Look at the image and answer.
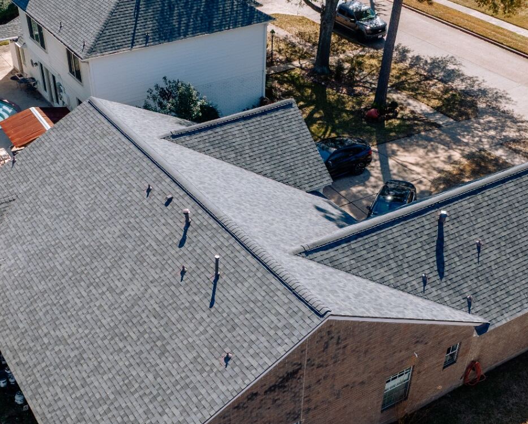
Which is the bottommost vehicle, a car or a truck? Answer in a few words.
car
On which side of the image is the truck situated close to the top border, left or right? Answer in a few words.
right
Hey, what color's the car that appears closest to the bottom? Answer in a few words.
black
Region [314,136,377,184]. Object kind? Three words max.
car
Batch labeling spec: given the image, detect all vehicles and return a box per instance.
[335,0,384,41]
[314,136,377,184]
[349,174,417,226]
